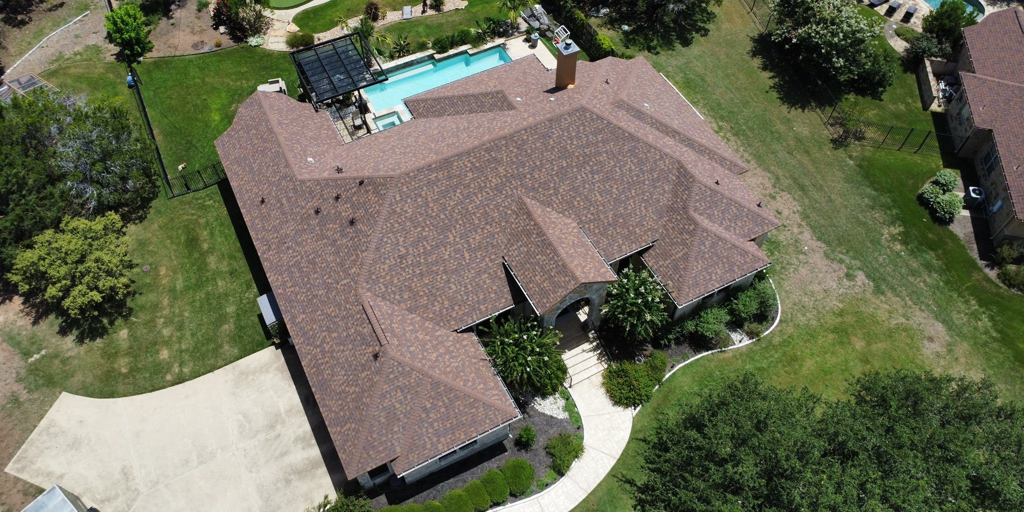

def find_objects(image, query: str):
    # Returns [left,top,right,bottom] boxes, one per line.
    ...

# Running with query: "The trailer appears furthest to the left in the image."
[20,483,90,512]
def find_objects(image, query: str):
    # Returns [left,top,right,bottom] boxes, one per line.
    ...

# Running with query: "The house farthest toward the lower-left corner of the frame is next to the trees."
[214,41,780,491]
